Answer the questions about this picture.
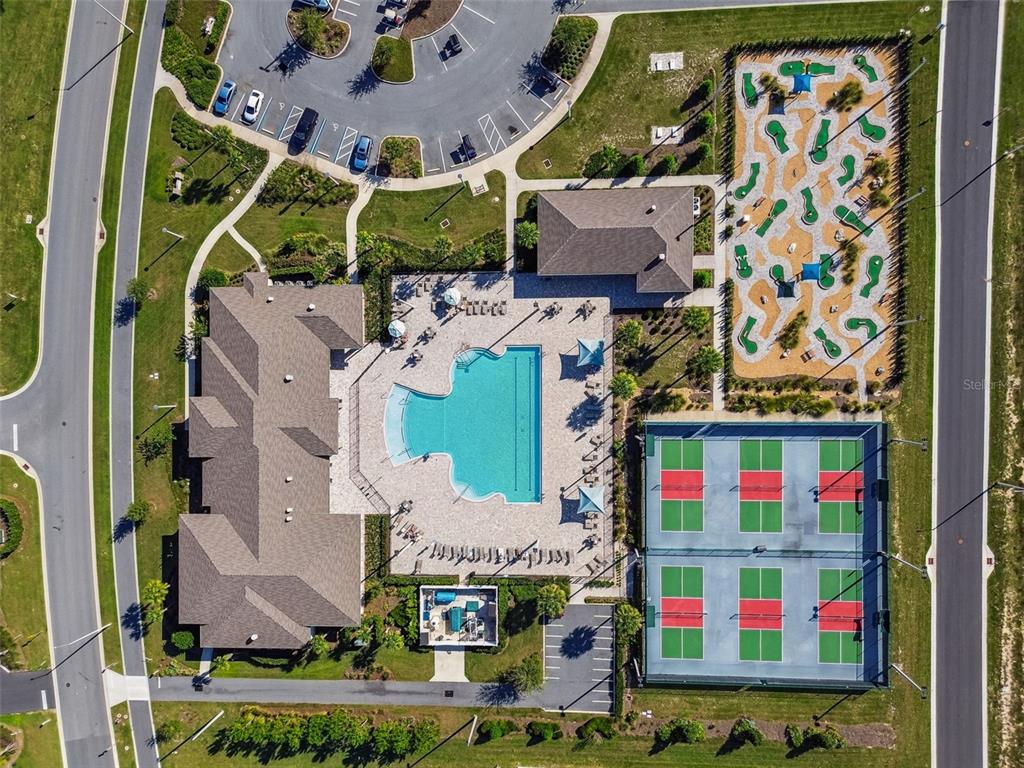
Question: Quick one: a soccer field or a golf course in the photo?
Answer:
golf course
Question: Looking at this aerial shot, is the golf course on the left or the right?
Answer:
right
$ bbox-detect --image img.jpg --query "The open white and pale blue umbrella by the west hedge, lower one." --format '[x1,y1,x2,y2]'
[389,321,406,337]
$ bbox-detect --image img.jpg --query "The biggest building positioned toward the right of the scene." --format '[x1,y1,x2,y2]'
[537,186,694,293]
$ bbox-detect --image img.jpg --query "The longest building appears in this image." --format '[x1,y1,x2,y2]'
[178,272,363,649]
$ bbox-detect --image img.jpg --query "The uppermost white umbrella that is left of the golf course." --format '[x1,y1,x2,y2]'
[444,289,461,306]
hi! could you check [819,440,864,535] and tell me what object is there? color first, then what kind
green sports court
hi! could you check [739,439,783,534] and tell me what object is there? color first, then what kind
green sports court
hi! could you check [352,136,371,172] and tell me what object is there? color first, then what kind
blue car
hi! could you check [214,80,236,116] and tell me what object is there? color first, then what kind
blue car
